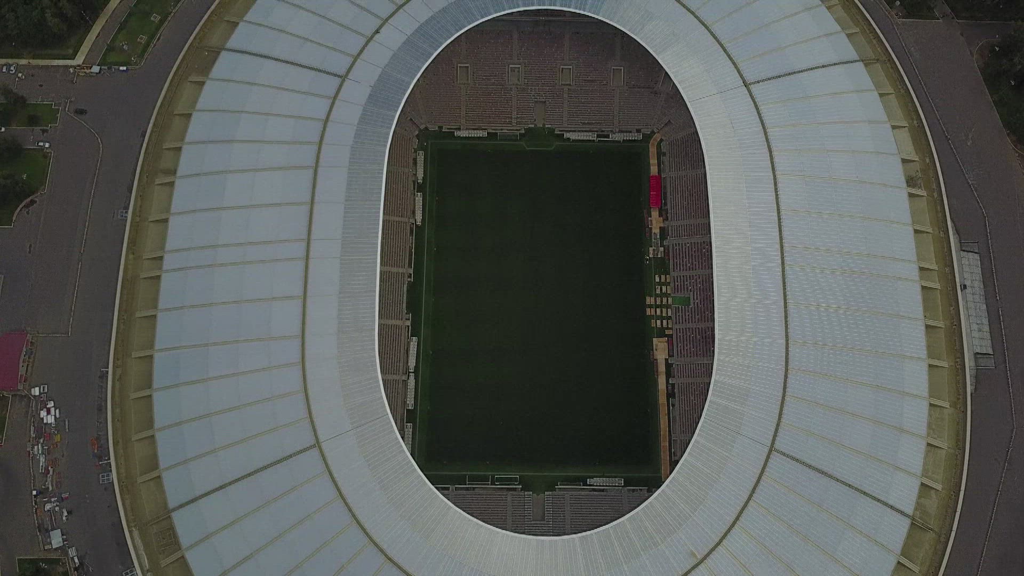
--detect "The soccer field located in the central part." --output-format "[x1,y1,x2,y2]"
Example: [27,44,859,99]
[400,119,675,494]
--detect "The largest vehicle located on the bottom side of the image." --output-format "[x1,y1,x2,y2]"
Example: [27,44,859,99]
[65,546,81,566]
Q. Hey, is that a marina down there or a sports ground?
sports ground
